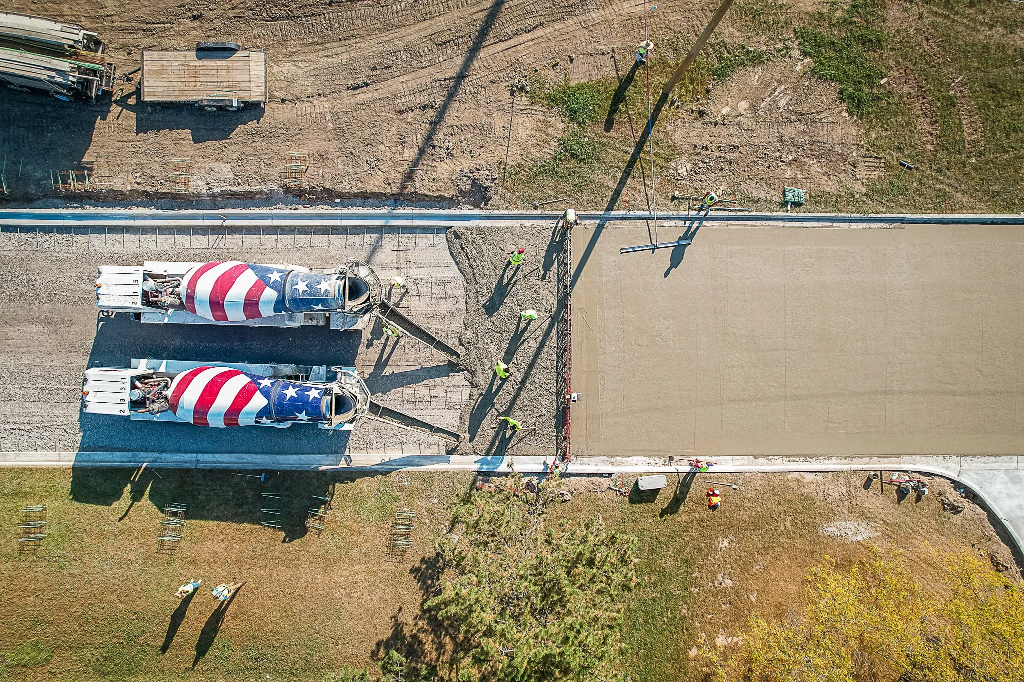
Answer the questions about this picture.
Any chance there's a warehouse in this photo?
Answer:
No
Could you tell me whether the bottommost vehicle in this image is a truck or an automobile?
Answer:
truck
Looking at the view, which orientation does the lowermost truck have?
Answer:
from left to right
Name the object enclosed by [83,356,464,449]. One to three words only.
truck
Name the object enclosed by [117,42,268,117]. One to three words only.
trailer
